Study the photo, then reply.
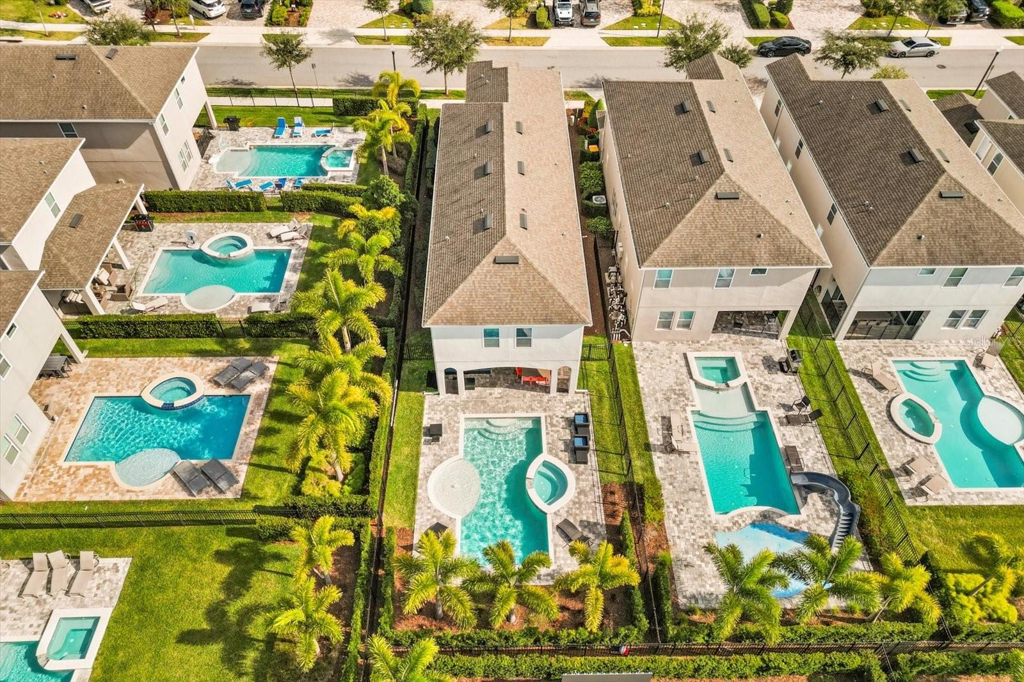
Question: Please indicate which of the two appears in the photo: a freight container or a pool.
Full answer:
It is a pool that can be seen here.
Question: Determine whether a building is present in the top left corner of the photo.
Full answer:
Yes, in the top left corner of the photo there is a building.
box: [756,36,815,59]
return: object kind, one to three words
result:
car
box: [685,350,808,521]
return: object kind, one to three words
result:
swimming pool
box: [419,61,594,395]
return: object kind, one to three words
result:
house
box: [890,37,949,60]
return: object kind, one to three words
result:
car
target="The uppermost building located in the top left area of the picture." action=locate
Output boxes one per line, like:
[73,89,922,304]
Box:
[0,46,218,190]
